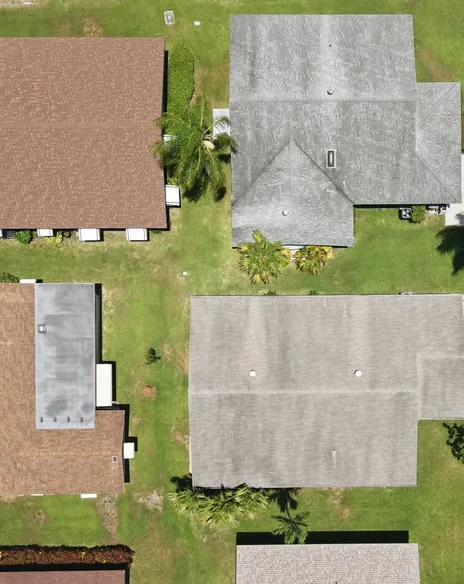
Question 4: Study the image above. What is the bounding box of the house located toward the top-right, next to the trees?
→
[228,15,462,248]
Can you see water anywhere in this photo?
No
